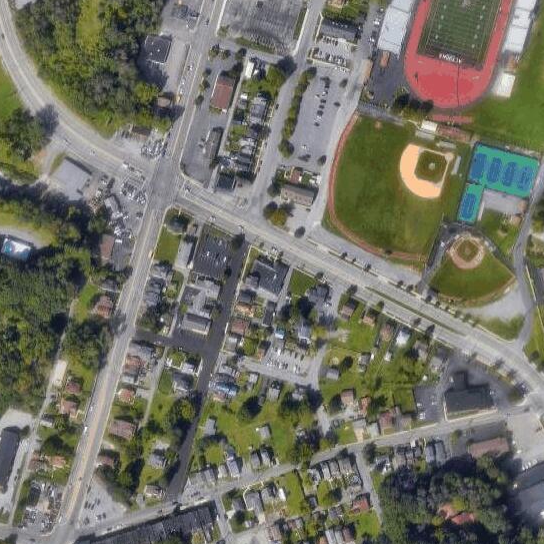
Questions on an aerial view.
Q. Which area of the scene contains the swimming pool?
left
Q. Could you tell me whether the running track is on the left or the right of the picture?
right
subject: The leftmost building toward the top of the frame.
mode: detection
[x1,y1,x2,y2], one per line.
[48,157,91,200]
